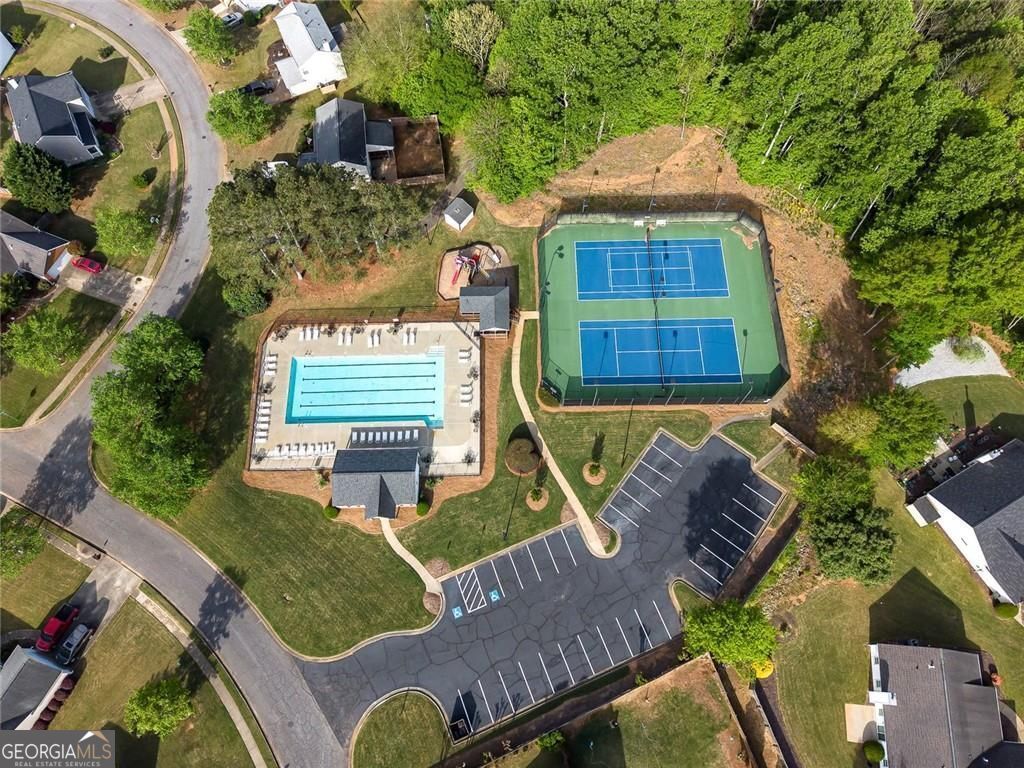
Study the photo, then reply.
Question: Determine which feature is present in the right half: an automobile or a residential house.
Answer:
residential house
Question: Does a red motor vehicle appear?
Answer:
Yes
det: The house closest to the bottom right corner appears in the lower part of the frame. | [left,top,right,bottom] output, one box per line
[864,645,1024,768]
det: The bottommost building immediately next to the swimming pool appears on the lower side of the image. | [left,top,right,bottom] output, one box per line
[331,447,419,519]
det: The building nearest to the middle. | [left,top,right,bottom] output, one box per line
[460,287,509,337]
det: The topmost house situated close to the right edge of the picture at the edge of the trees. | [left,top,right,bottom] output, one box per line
[906,440,1024,609]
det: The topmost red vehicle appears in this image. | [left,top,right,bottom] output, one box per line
[72,256,102,275]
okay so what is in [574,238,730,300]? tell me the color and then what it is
blue tennis court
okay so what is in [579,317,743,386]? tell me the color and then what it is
blue tennis court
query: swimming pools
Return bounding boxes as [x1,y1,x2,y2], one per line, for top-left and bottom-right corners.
[285,343,447,431]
